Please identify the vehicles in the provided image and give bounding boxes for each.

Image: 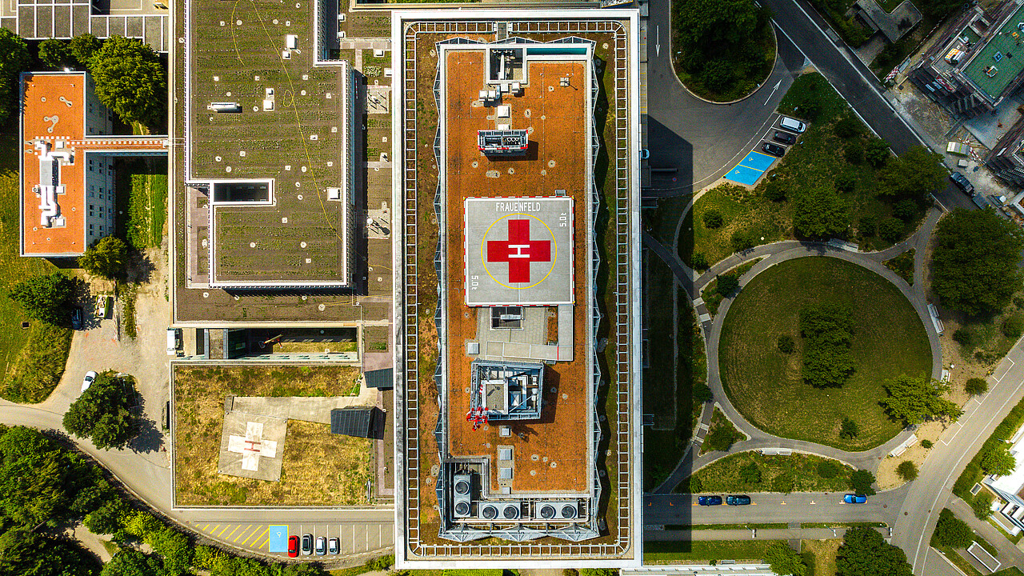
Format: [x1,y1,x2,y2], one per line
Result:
[698,495,722,506]
[843,493,867,504]
[288,535,299,556]
[951,173,975,195]
[301,533,312,555]
[328,536,338,554]
[165,329,178,357]
[81,370,98,392]
[772,130,795,145]
[72,308,84,330]
[761,142,784,157]
[315,536,325,555]
[725,494,750,506]
[780,116,806,133]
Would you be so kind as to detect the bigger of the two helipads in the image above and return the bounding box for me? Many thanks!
[464,190,576,364]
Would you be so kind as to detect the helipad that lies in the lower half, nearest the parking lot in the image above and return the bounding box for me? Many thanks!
[219,411,287,481]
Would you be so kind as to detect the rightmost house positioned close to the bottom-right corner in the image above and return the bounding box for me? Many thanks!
[973,418,1024,541]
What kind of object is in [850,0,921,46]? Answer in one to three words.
house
